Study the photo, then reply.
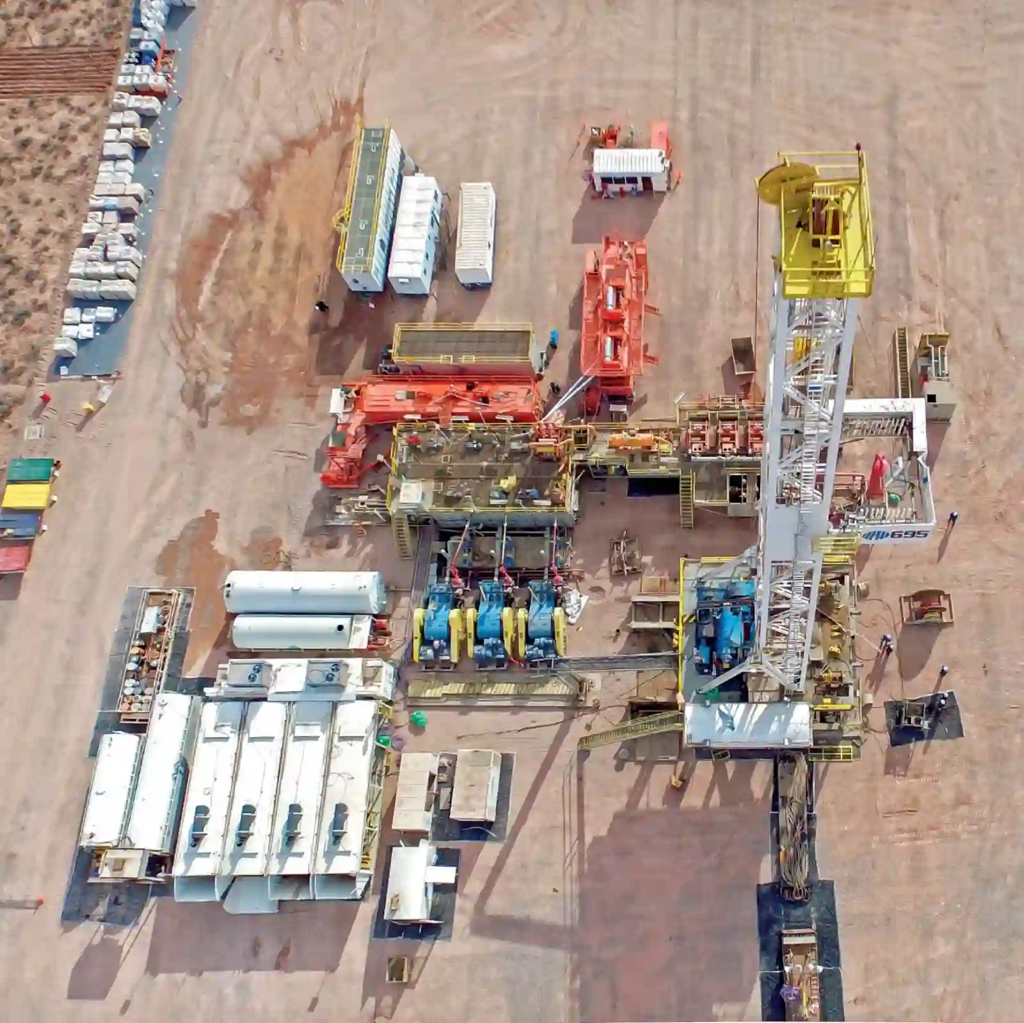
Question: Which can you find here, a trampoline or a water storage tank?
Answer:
water storage tank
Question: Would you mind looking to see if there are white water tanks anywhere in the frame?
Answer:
Yes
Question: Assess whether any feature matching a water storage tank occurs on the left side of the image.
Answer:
Yes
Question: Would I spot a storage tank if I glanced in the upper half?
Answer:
Yes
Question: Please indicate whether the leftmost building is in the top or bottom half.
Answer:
bottom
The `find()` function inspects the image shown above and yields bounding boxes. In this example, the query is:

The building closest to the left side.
[205,659,399,703]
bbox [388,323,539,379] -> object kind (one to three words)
storage tank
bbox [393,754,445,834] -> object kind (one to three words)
building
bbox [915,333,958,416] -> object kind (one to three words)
building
